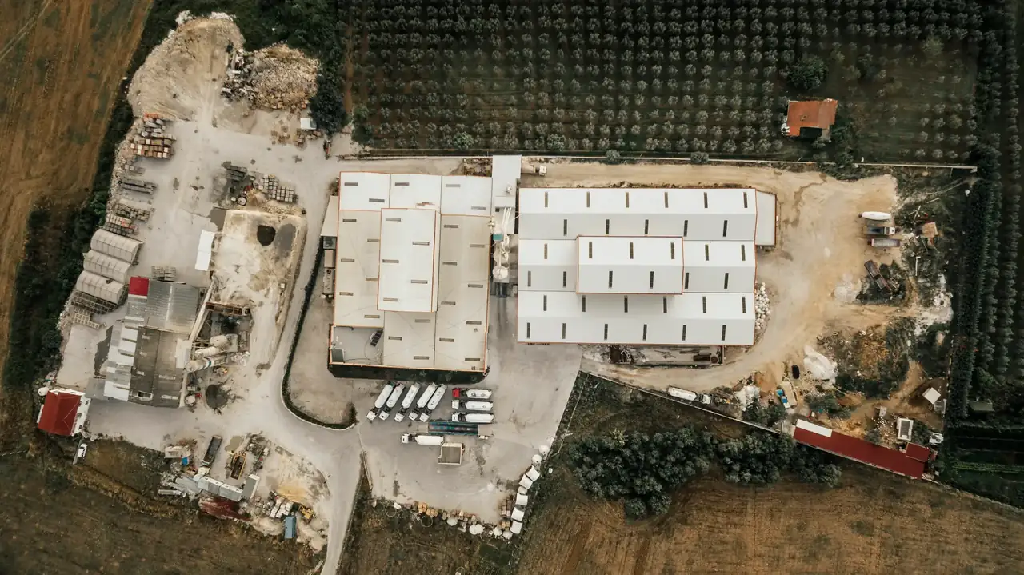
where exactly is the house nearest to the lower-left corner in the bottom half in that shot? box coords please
[38,389,95,437]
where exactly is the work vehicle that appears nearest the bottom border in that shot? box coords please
[294,499,317,518]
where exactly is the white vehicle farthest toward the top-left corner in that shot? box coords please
[299,117,318,129]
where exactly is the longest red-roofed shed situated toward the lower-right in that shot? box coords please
[791,419,925,480]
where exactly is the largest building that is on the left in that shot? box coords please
[327,172,492,373]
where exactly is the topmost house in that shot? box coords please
[784,99,838,138]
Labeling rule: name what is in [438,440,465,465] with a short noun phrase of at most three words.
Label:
building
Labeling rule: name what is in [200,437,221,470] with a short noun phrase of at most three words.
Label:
truck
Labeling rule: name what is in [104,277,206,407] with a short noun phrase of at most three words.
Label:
building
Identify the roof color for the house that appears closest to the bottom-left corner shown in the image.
red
